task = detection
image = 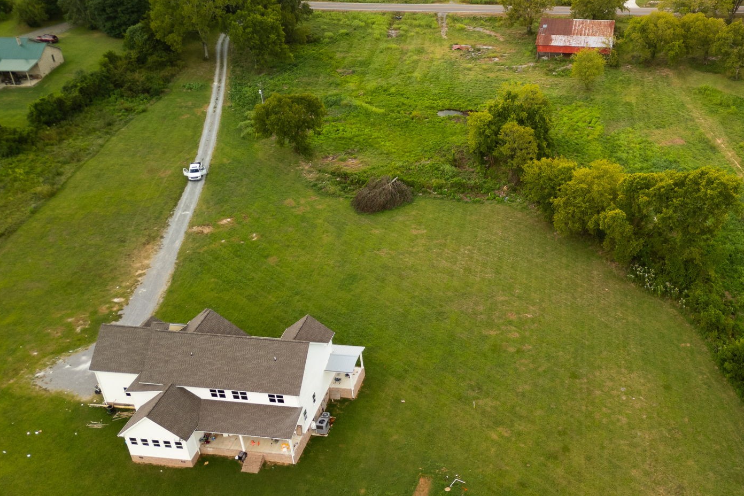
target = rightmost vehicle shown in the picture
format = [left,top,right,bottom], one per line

[186,157,215,177]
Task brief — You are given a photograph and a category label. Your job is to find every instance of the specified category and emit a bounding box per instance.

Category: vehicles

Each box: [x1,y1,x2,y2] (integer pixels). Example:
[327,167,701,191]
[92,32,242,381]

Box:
[36,32,62,41]
[186,157,215,177]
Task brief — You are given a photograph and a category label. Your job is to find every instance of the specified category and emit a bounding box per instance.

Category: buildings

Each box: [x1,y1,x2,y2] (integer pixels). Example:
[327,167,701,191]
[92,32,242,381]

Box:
[536,19,615,59]
[88,308,368,472]
[0,36,63,88]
